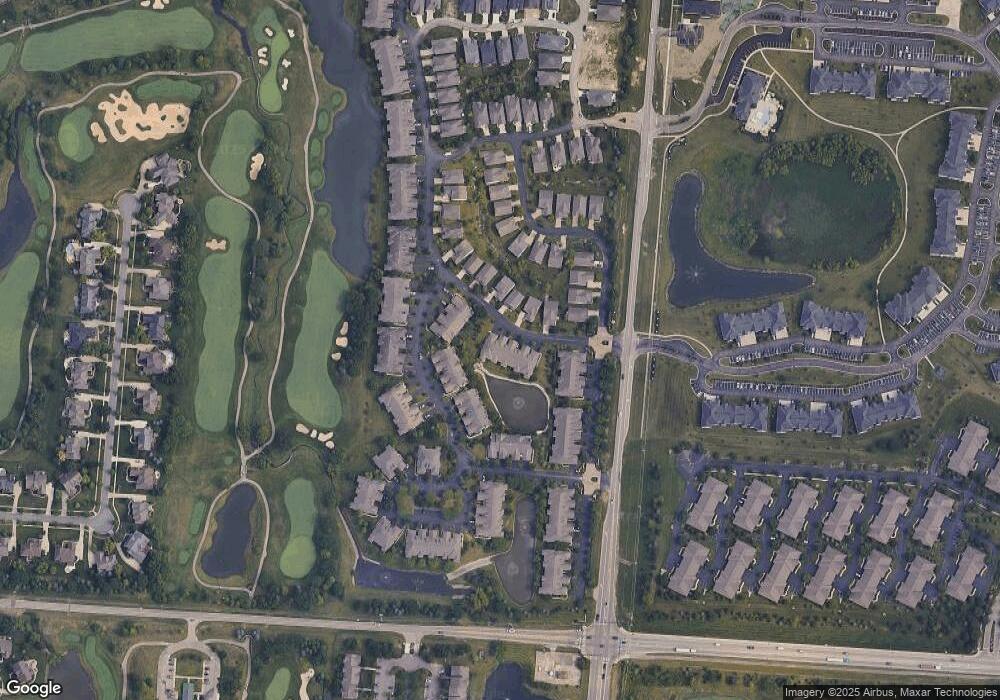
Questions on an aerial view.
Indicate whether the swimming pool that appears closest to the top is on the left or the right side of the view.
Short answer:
right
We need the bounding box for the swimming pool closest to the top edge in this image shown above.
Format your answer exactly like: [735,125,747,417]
[745,92,782,136]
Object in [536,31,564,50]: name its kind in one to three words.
house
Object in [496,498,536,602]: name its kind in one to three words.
pond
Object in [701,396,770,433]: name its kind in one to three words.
building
